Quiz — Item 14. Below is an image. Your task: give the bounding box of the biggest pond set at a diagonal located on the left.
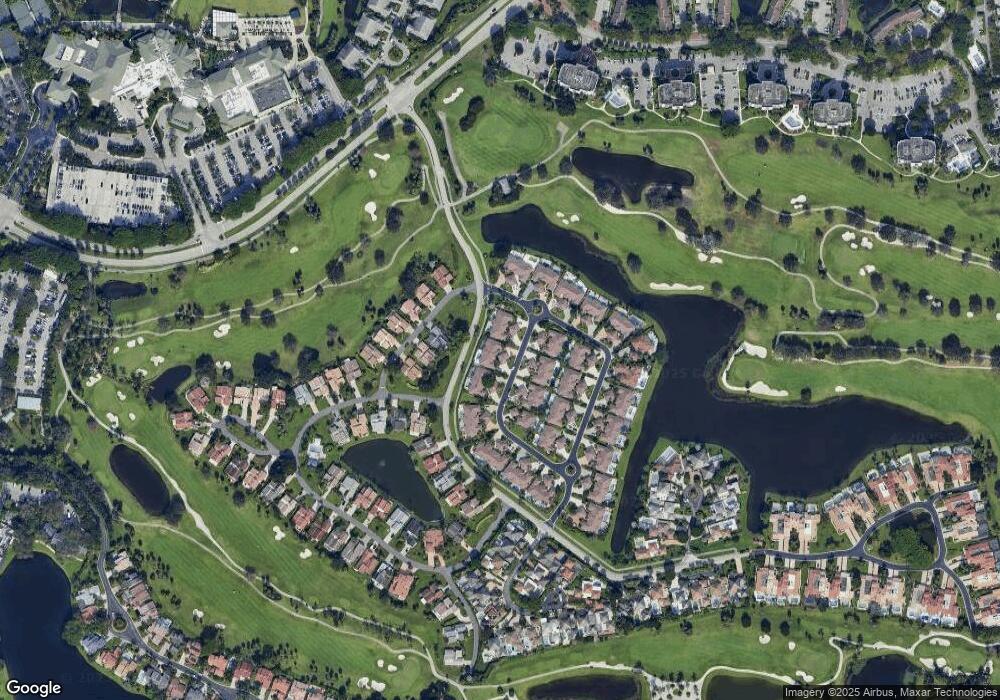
[342,438,442,523]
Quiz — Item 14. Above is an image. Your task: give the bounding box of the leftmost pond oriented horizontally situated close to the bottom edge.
[521,675,643,700]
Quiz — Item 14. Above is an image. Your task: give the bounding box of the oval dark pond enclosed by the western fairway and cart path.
[109,444,171,515]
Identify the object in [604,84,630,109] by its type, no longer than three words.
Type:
swimming pool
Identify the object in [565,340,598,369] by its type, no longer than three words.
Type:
house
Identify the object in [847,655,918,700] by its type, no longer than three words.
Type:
pond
